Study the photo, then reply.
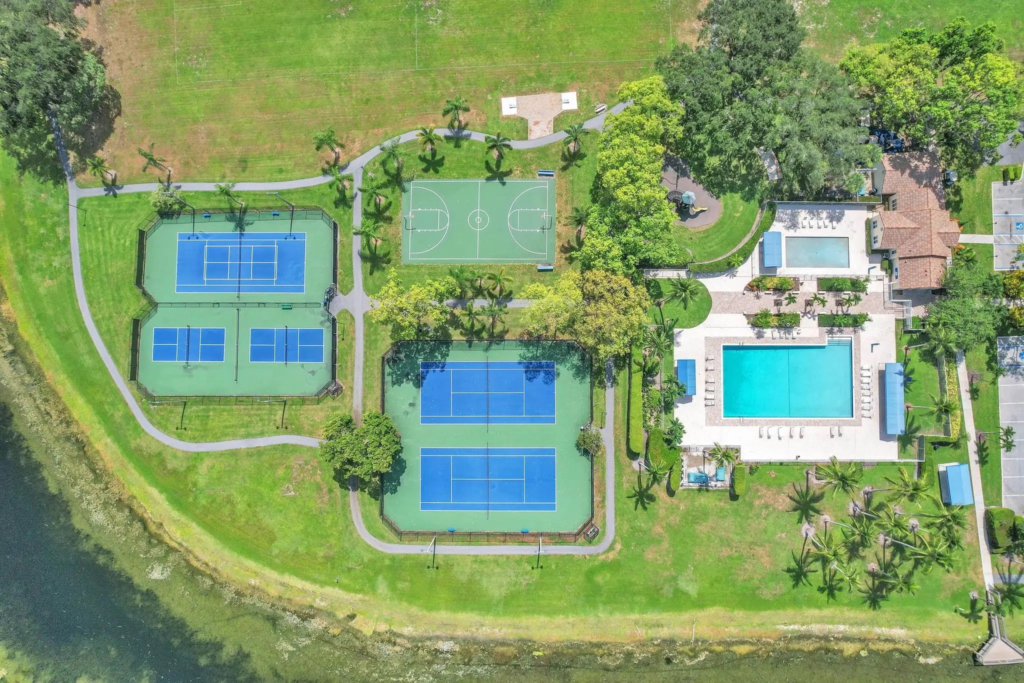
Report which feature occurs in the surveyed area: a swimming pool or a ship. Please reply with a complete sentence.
There is a swimming pool in the scene.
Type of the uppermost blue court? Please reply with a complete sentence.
Specifically, the uppermost blue court is a tennis court.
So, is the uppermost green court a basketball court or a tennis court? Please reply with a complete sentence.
From above, the uppermost green court can be identified as a basketball court.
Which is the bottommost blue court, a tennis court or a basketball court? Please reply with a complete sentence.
Specifically, the bottommost blue court is a tennis court.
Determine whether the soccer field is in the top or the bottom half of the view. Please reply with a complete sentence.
The soccer field is in the top half of the image.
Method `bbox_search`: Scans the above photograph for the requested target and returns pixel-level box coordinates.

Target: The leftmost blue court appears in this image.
[152,325,225,364]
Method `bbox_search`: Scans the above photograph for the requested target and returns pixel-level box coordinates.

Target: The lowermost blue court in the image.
[420,442,556,518]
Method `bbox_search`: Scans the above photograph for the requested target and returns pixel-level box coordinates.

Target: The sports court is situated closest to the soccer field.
[502,92,578,141]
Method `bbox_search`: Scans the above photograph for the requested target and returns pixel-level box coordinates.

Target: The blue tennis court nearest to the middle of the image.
[420,356,556,430]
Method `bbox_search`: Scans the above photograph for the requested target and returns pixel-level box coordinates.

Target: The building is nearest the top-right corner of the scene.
[873,152,963,290]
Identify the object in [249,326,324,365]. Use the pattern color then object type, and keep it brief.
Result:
blue sports court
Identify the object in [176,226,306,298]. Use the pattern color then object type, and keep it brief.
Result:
blue tennis court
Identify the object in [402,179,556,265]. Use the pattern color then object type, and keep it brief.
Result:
green basketball court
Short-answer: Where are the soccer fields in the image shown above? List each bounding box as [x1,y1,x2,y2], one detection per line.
[170,0,673,84]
